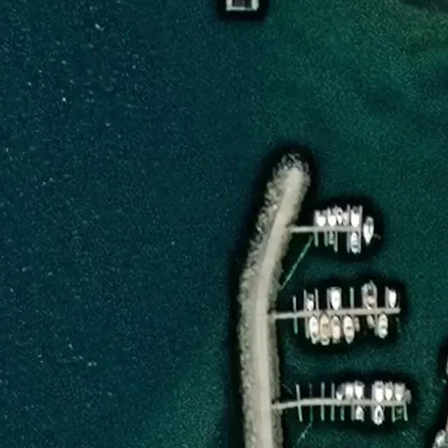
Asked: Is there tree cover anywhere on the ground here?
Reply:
No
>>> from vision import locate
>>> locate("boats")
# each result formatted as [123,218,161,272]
[317,212,325,227]
[309,317,318,343]
[328,211,336,227]
[374,405,383,425]
[376,381,384,403]
[389,289,397,308]
[351,232,358,253]
[342,210,348,226]
[344,315,354,344]
[395,383,404,402]
[320,314,330,345]
[329,230,334,245]
[397,407,403,420]
[434,429,446,448]
[386,382,393,401]
[364,282,376,309]
[367,315,375,329]
[355,381,364,400]
[336,386,343,400]
[378,313,388,338]
[351,206,360,228]
[331,287,341,310]
[336,207,343,225]
[356,406,364,422]
[364,217,374,245]
[404,390,411,404]
[331,317,341,343]
[346,382,354,400]
[307,294,314,311]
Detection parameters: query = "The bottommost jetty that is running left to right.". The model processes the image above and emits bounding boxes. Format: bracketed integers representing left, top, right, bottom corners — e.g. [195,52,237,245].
[278,382,407,422]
